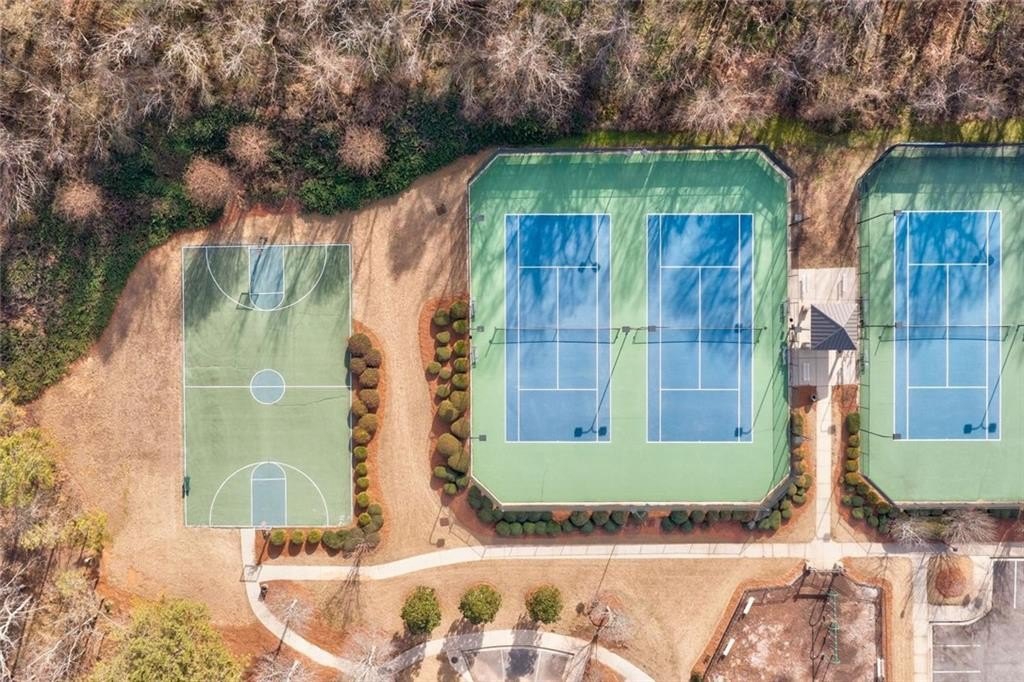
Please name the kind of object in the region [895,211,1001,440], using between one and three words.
tennis court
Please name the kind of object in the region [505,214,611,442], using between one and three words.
tennis court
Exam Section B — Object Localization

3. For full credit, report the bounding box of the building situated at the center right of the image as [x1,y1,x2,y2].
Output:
[805,304,858,350]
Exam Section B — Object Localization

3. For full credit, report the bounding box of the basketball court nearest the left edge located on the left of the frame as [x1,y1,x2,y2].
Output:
[182,244,353,527]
